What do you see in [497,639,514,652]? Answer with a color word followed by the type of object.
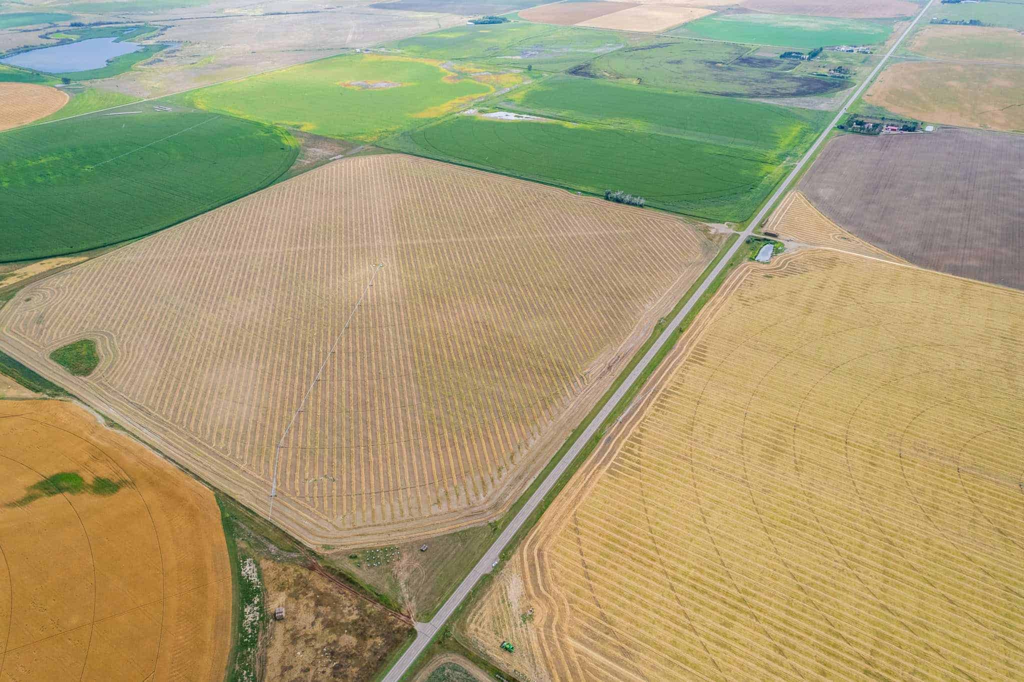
green vehicle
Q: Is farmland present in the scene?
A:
Yes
